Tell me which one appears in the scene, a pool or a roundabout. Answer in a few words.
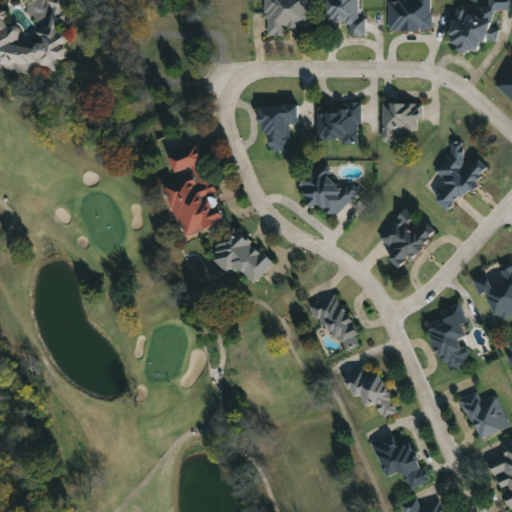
pool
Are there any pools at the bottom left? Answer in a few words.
No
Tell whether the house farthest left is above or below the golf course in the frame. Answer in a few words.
above it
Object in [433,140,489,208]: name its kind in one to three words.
house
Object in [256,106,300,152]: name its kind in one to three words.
house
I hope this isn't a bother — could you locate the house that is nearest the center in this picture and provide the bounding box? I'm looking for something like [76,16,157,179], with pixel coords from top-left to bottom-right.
[214,236,275,286]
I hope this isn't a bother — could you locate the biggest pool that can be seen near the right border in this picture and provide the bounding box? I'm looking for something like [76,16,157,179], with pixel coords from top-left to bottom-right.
[464,326,490,354]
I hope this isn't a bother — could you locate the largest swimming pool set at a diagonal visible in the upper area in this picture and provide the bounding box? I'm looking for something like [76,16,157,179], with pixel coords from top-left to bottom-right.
[8,1,38,36]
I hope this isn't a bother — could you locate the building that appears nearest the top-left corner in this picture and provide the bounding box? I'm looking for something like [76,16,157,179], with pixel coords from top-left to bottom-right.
[0,0,71,76]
